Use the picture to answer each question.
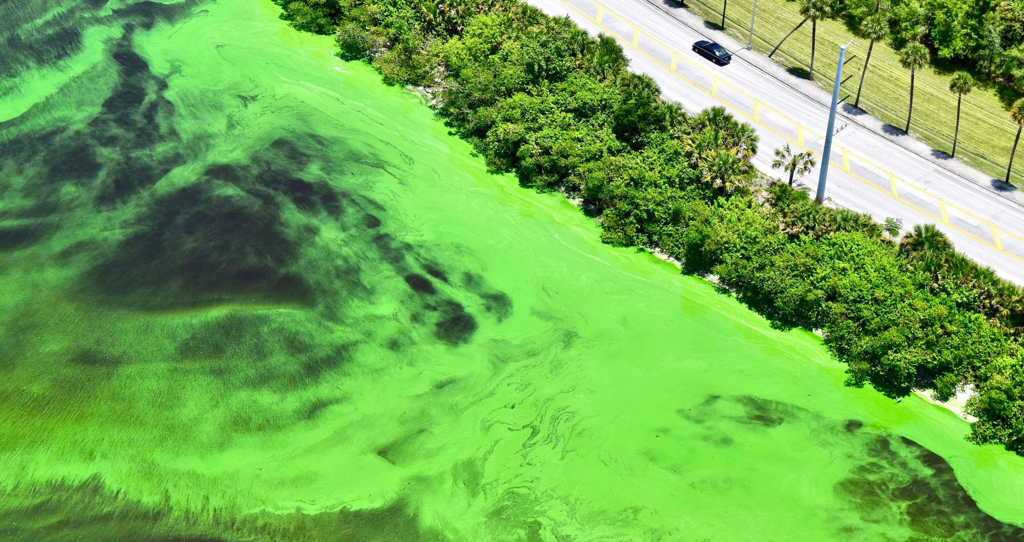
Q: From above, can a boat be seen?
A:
No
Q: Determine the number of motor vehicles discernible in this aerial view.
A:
1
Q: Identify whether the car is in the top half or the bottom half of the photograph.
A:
top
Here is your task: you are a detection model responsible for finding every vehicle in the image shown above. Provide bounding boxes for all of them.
[691,37,734,62]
